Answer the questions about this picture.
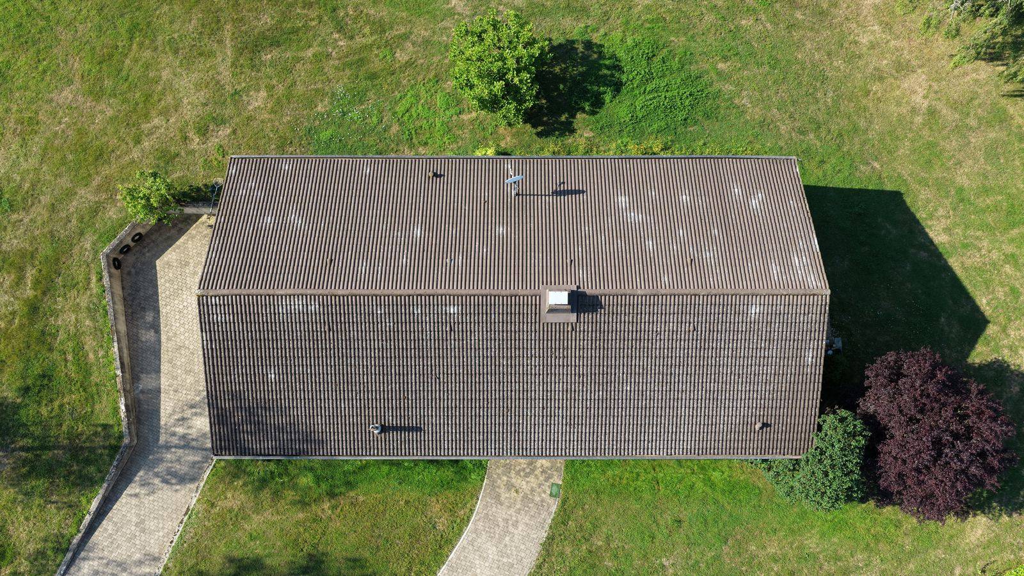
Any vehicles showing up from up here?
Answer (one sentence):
No, the frame has no vehicle in it.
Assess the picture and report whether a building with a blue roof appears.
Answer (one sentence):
No, there's no building with a blue roof here.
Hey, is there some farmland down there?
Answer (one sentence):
No, the picture contains no farmland.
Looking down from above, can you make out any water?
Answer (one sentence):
No, the scene doesn't show any water.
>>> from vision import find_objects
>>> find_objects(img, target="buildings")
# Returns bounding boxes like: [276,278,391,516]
[194,154,834,459]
